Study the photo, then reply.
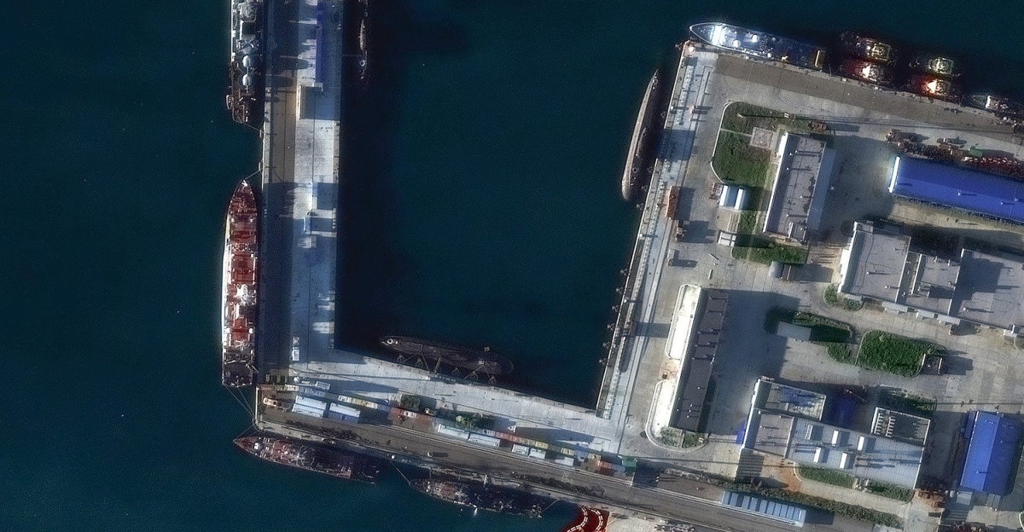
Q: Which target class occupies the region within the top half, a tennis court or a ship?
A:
ship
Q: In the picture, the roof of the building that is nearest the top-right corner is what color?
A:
blue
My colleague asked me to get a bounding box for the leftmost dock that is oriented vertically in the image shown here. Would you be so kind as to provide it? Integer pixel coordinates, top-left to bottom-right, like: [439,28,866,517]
[256,0,342,385]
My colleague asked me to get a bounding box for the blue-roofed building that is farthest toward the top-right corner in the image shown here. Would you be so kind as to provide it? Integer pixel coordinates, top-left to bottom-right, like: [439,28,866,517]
[889,155,1024,225]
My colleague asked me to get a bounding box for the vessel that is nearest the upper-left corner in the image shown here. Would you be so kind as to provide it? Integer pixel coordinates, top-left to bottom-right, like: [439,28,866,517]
[226,0,263,129]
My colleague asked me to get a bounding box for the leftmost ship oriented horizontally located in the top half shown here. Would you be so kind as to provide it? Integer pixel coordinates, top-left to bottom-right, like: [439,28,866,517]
[690,22,825,70]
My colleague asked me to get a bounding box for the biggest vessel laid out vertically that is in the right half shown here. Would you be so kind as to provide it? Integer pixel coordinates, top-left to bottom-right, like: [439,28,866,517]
[622,70,659,201]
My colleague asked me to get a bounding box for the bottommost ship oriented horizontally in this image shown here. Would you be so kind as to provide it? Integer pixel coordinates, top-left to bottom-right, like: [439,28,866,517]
[410,481,545,520]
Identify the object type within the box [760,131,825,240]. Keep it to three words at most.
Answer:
building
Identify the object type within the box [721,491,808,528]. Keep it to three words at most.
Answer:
shed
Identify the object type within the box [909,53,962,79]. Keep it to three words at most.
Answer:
boat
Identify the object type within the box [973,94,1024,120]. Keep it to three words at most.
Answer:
ship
